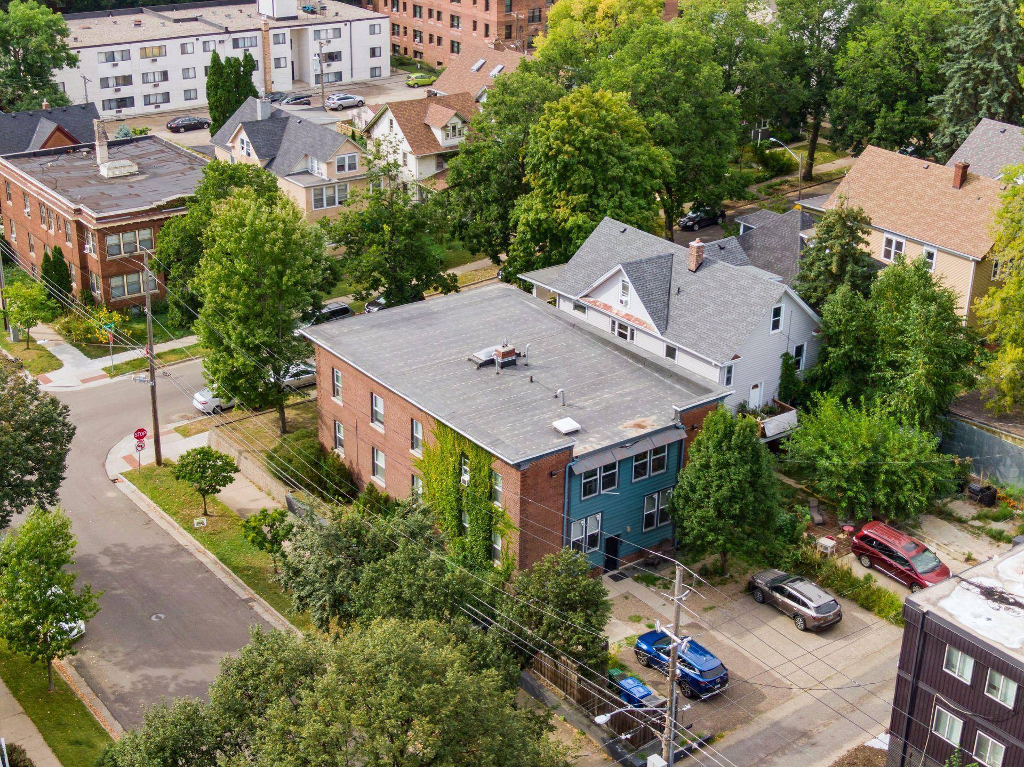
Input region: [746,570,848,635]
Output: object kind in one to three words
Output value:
car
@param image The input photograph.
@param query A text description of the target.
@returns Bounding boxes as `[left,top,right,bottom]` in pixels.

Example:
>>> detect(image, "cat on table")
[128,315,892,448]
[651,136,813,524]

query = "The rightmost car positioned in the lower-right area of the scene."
[852,522,957,593]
